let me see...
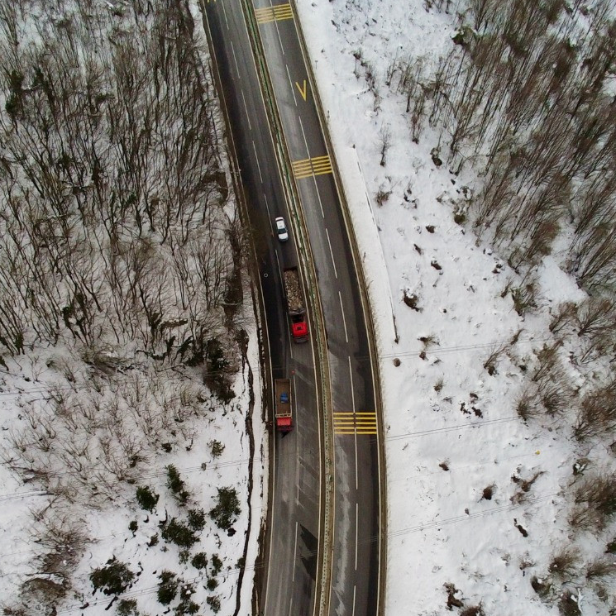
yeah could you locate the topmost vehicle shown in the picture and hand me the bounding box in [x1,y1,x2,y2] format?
[275,219,288,243]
